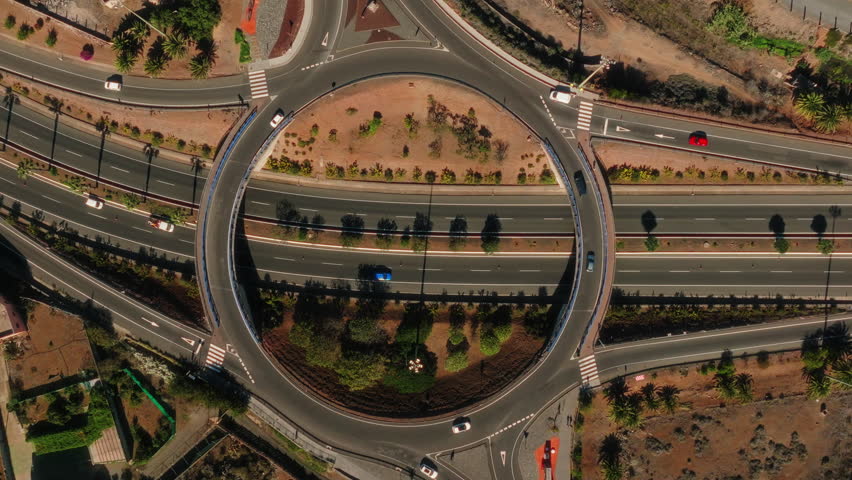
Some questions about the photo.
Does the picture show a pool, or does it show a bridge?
bridge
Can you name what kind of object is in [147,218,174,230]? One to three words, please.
vehicle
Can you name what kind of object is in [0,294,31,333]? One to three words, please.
house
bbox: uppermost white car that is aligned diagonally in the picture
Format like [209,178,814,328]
[270,109,285,128]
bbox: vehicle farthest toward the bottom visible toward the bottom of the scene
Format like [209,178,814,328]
[419,463,438,478]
